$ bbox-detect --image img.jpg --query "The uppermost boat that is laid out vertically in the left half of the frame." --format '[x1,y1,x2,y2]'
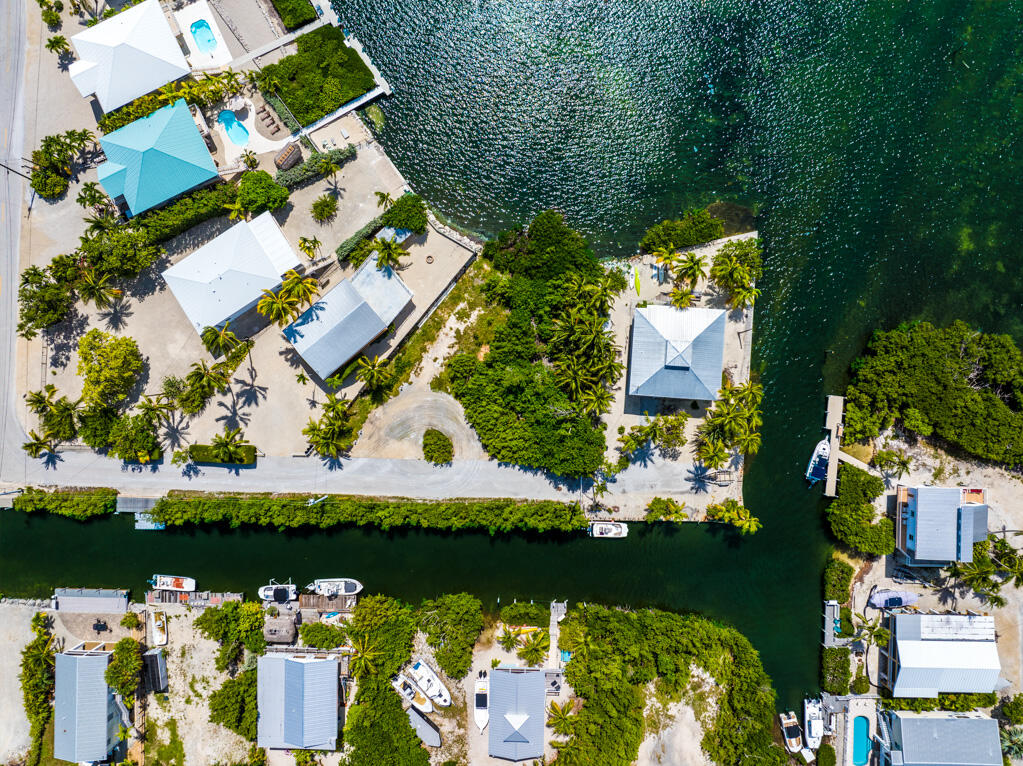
[148,611,165,647]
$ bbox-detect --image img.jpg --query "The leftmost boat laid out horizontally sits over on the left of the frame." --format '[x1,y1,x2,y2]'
[148,573,196,590]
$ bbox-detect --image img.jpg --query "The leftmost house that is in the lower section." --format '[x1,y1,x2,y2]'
[55,632,137,762]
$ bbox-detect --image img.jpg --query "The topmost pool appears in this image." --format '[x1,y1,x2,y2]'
[171,0,233,66]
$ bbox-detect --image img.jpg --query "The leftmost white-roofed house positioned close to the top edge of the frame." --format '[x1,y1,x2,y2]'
[69,0,216,120]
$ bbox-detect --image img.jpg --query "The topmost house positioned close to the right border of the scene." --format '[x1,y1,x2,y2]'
[886,483,990,568]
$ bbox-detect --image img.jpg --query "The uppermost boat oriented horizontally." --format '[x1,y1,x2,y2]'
[583,521,628,538]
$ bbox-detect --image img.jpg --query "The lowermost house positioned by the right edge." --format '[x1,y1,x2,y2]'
[871,705,1004,766]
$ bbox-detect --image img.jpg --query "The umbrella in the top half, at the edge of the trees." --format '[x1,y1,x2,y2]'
[230,97,247,114]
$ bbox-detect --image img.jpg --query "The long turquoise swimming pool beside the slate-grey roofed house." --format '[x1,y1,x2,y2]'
[847,700,878,766]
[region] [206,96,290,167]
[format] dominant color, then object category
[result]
white swimming pool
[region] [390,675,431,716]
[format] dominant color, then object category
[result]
white boat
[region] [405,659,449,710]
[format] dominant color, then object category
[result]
white boat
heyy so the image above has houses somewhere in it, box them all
[161,213,305,336]
[866,608,1002,698]
[282,251,414,380]
[255,648,353,750]
[871,705,1004,766]
[489,660,561,762]
[55,632,137,762]
[97,98,247,216]
[69,0,216,120]
[628,309,727,400]
[886,483,990,568]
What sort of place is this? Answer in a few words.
residential area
